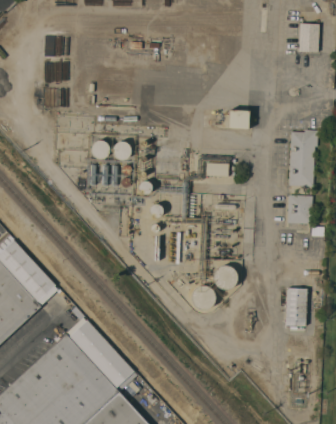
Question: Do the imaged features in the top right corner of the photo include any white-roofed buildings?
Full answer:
Yes, in the top right corner of the photo there is a white-roofed building.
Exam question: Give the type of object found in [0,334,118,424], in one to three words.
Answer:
building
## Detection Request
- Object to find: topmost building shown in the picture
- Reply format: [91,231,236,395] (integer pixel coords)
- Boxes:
[300,24,320,52]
